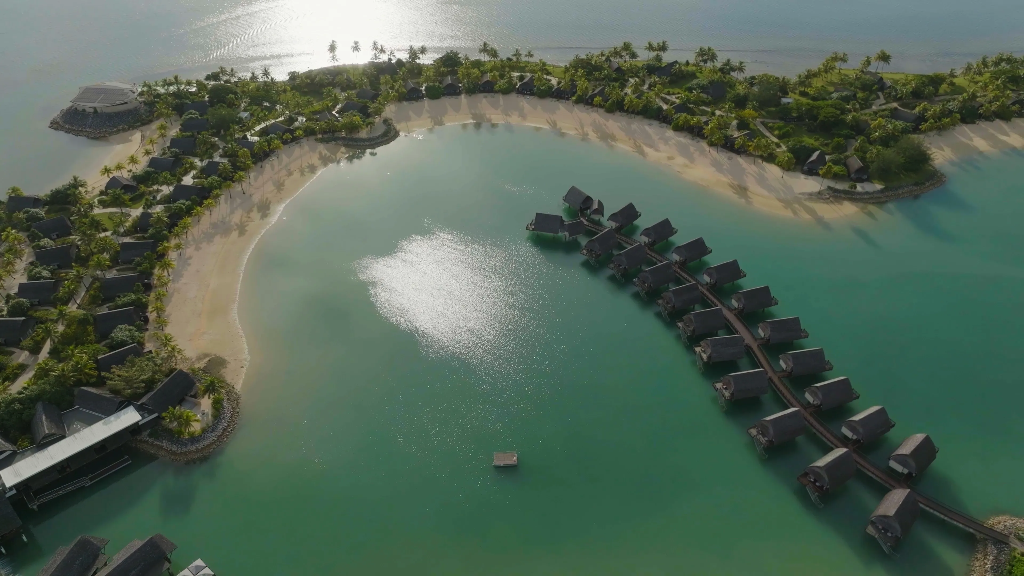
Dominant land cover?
water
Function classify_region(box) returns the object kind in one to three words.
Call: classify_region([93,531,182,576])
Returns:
building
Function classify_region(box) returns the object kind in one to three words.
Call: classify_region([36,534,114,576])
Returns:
building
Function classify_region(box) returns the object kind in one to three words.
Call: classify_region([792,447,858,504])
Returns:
house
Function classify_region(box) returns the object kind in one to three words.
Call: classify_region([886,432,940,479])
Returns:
house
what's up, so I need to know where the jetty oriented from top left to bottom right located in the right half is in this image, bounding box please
[578,211,1013,544]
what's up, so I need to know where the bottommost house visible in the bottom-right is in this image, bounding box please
[861,487,921,555]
